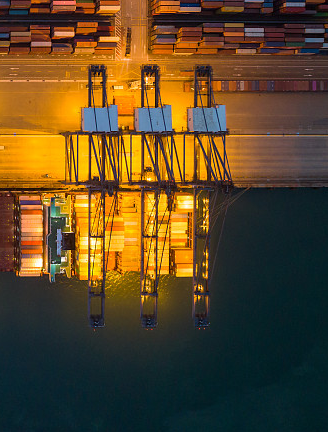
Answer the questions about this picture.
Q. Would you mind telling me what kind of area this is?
port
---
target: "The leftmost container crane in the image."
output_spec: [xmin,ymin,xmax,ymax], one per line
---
[54,66,124,330]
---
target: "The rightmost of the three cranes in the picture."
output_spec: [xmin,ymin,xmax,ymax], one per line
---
[158,66,237,330]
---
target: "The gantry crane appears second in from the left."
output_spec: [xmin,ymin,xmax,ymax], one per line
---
[105,66,179,330]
